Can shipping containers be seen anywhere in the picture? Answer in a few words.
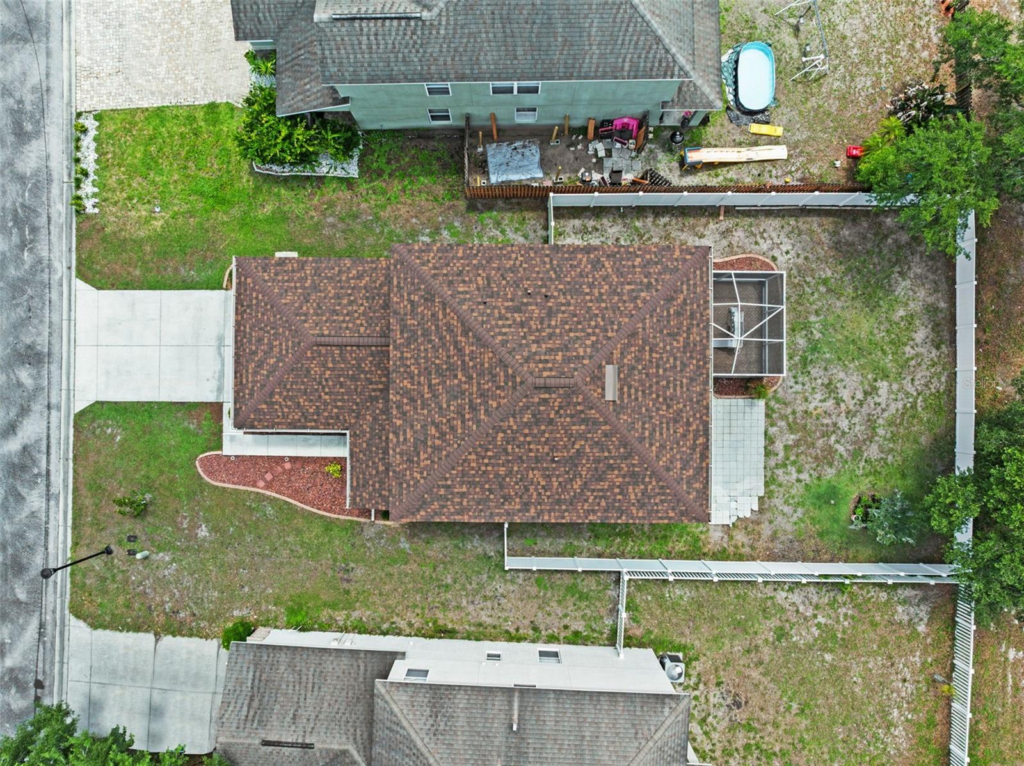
No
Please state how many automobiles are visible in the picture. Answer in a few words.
0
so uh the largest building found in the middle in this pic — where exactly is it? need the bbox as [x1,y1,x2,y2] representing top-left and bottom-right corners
[231,242,713,525]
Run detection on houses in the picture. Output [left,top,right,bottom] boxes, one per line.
[234,0,724,129]
[211,631,712,766]
[231,242,713,525]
